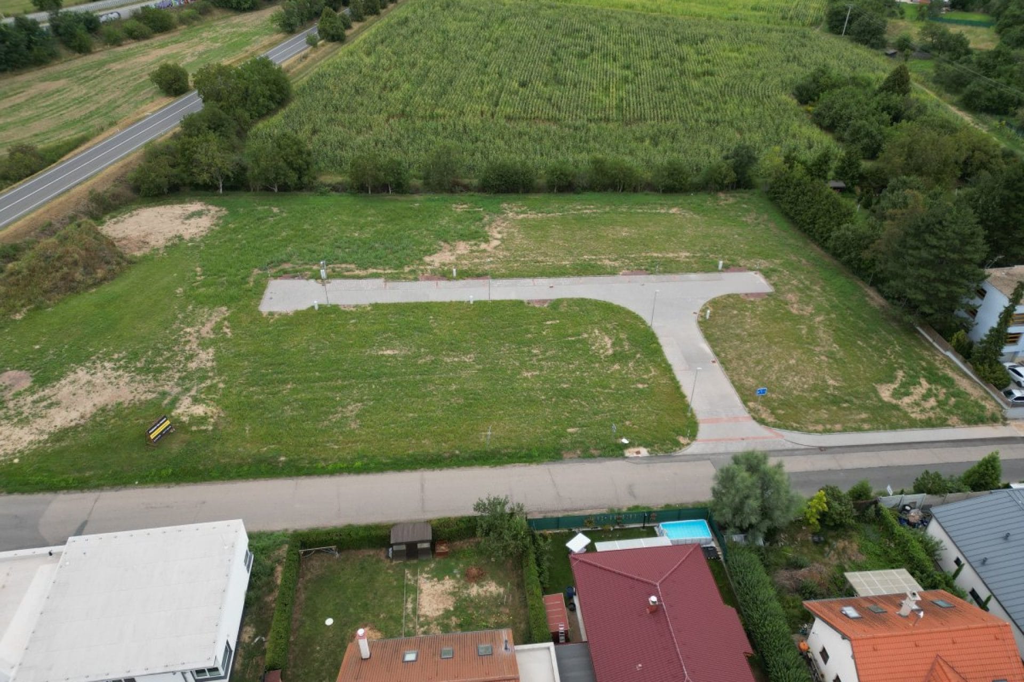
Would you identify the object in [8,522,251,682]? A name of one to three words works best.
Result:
building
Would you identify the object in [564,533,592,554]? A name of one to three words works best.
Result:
umbrella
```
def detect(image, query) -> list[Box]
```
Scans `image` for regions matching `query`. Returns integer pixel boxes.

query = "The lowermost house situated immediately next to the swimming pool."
[569,543,751,682]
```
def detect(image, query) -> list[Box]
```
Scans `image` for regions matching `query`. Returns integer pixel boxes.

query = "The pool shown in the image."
[657,520,711,549]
